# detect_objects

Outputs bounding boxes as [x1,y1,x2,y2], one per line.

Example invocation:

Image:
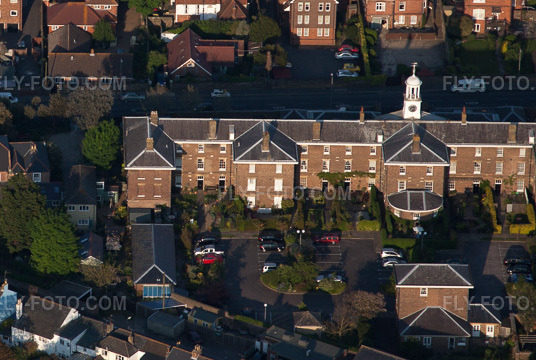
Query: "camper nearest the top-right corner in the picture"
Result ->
[451,76,485,95]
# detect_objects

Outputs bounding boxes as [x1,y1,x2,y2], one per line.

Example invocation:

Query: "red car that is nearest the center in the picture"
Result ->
[313,234,341,246]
